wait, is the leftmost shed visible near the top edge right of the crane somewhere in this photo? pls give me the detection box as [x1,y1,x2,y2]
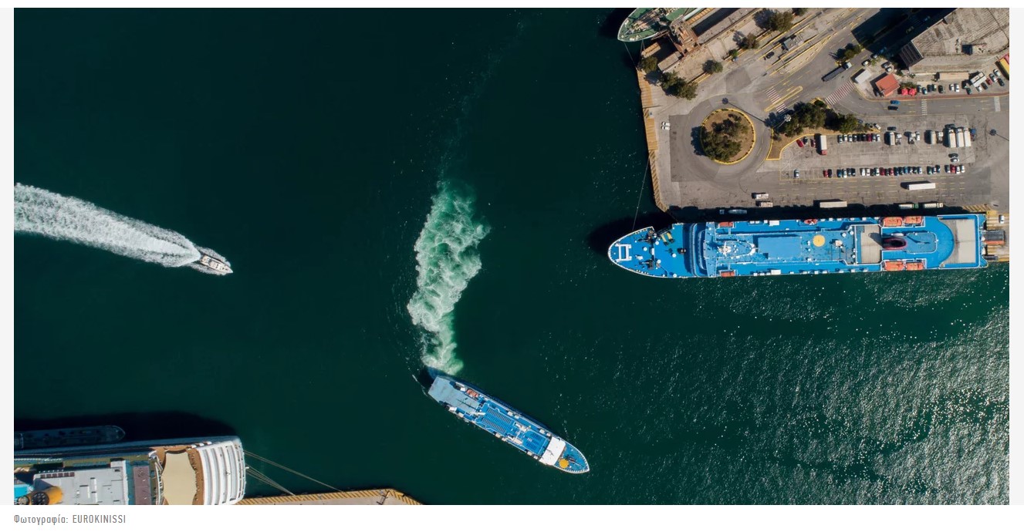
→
[699,0,773,43]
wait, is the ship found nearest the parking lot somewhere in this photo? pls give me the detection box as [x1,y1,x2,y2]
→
[608,214,1005,278]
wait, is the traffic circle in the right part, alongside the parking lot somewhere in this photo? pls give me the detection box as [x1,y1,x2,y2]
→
[688,96,768,176]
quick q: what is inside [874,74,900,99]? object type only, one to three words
house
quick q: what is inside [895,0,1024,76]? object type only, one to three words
building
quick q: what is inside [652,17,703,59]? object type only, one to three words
crane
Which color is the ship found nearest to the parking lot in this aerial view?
blue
